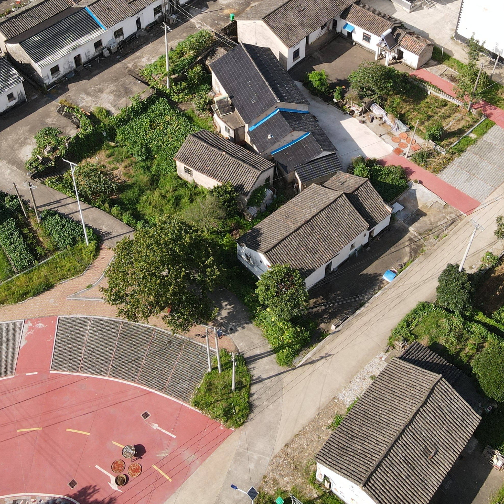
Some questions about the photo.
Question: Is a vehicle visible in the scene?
No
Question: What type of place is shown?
residential area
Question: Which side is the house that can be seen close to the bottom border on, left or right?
right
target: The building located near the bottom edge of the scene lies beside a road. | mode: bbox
[315,359,482,504]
